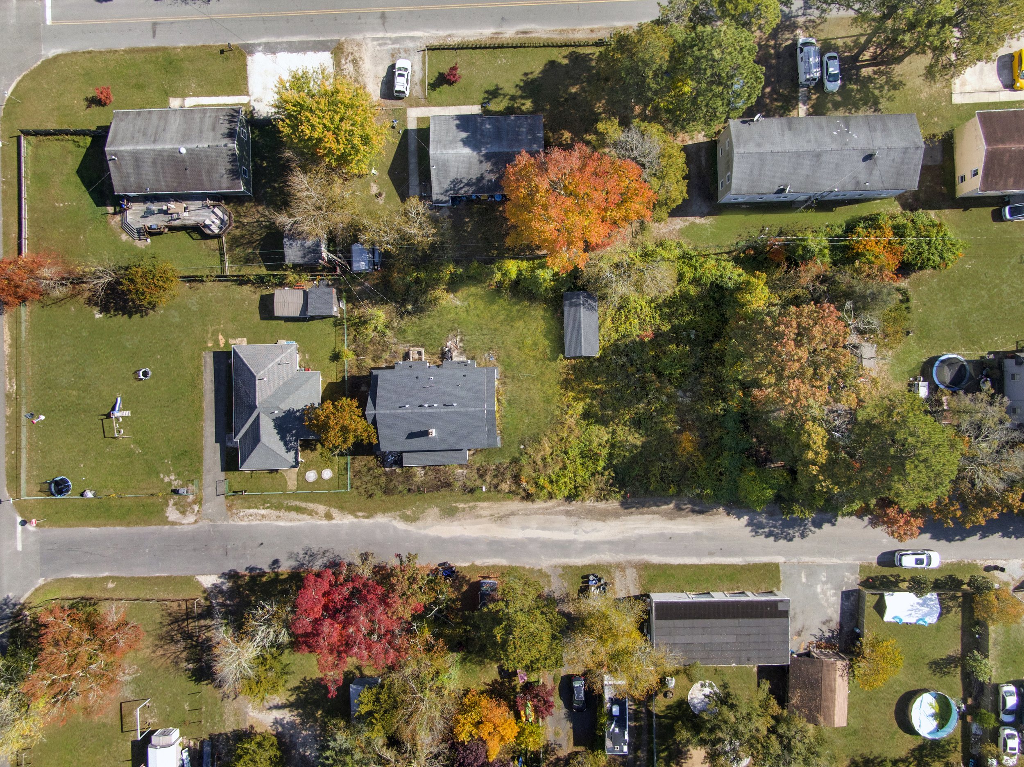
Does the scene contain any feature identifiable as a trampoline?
Yes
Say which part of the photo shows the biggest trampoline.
right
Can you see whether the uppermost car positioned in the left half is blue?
No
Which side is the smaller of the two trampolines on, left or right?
left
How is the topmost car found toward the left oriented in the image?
up and down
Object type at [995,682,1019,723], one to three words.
car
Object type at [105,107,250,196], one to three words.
house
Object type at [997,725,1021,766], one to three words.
car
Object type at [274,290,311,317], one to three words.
shed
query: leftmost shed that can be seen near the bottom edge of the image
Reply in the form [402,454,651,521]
[149,726,190,767]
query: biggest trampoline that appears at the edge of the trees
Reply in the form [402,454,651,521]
[930,353,980,391]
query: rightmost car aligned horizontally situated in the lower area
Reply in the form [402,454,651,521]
[893,549,939,570]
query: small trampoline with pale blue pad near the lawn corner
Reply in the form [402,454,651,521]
[42,477,73,499]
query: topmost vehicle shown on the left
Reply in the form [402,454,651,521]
[392,59,413,100]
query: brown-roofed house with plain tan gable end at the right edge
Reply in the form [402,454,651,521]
[955,110,1024,199]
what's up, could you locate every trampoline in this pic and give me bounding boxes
[930,353,980,391]
[42,477,73,499]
